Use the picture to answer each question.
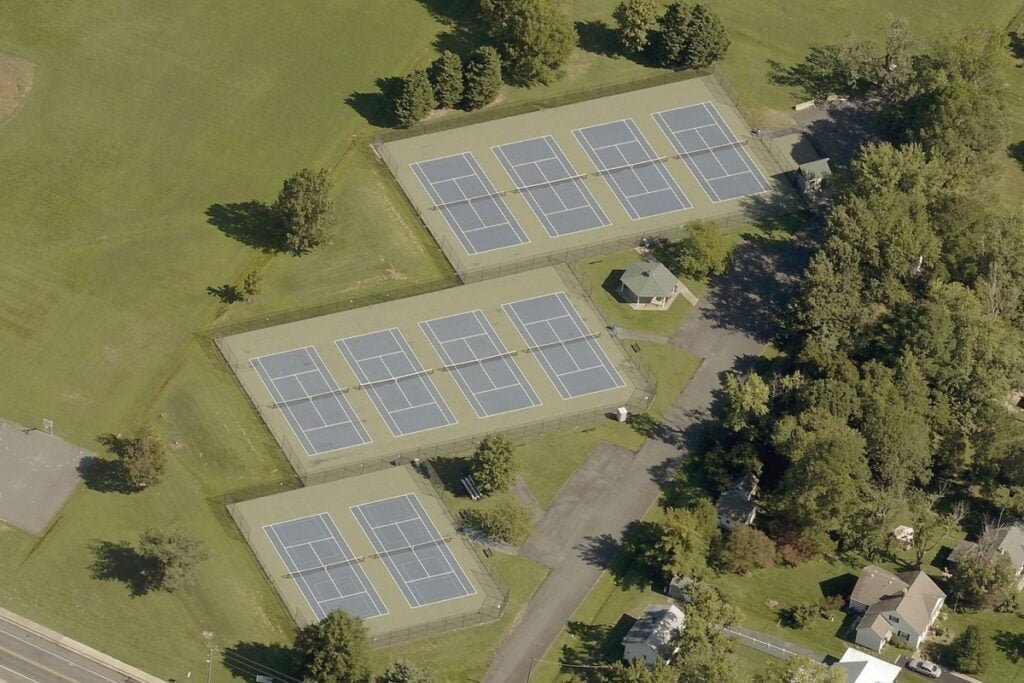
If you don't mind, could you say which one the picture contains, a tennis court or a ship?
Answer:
tennis court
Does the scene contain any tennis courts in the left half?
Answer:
Yes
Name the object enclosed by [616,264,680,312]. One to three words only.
gazebo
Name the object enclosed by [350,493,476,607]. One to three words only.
tennis court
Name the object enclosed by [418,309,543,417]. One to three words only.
tennis court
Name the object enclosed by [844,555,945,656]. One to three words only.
house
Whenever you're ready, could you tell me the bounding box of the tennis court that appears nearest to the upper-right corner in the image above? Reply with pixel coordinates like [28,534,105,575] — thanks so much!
[652,102,773,203]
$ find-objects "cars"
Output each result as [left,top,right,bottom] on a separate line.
[911,657,944,676]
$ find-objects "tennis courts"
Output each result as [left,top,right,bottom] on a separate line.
[491,135,612,237]
[410,151,531,254]
[250,345,373,455]
[335,327,458,436]
[571,118,693,220]
[350,493,476,607]
[652,102,773,203]
[502,291,626,399]
[418,309,543,417]
[263,512,390,623]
